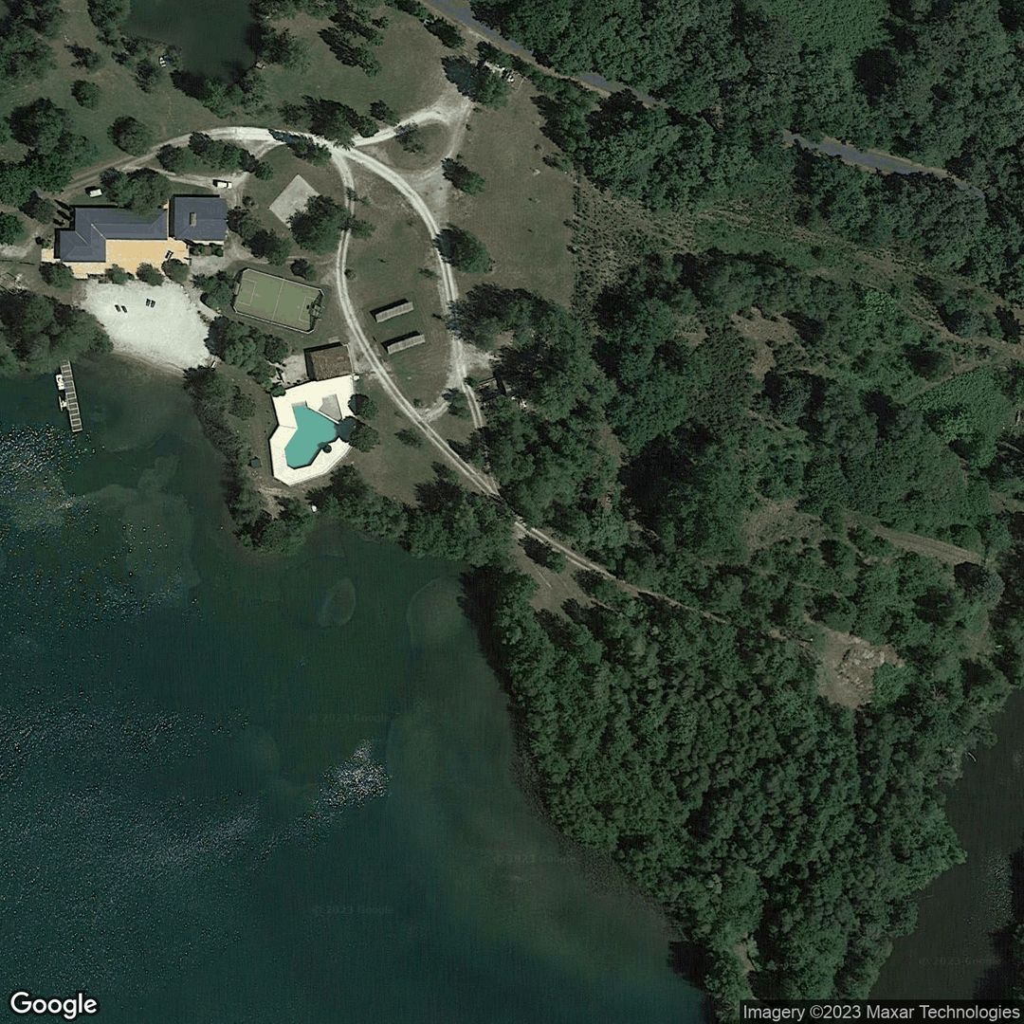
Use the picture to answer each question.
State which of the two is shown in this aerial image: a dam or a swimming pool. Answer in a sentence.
I can see a swimming pool in this picture.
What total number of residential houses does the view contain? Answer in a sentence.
The count of residential houses comes to 3.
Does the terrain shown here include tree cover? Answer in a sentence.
Yes, there is tree cover in the image.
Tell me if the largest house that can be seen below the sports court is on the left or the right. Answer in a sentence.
The largest house that can be seen below the sports court sits on the left side.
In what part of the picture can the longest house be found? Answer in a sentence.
The longest house appears toward the top left of the photo.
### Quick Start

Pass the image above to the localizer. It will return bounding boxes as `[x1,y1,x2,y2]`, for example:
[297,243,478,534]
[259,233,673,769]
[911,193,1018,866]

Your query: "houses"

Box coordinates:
[310,345,353,381]
[175,197,226,240]
[60,208,167,262]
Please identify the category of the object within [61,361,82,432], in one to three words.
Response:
pier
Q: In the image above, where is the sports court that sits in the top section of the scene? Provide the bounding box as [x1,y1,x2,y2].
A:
[233,268,324,333]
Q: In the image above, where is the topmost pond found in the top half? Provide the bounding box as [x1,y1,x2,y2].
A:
[124,0,254,91]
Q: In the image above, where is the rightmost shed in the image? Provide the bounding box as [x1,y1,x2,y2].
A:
[476,374,501,396]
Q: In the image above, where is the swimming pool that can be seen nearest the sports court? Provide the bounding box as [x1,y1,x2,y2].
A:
[270,375,357,489]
